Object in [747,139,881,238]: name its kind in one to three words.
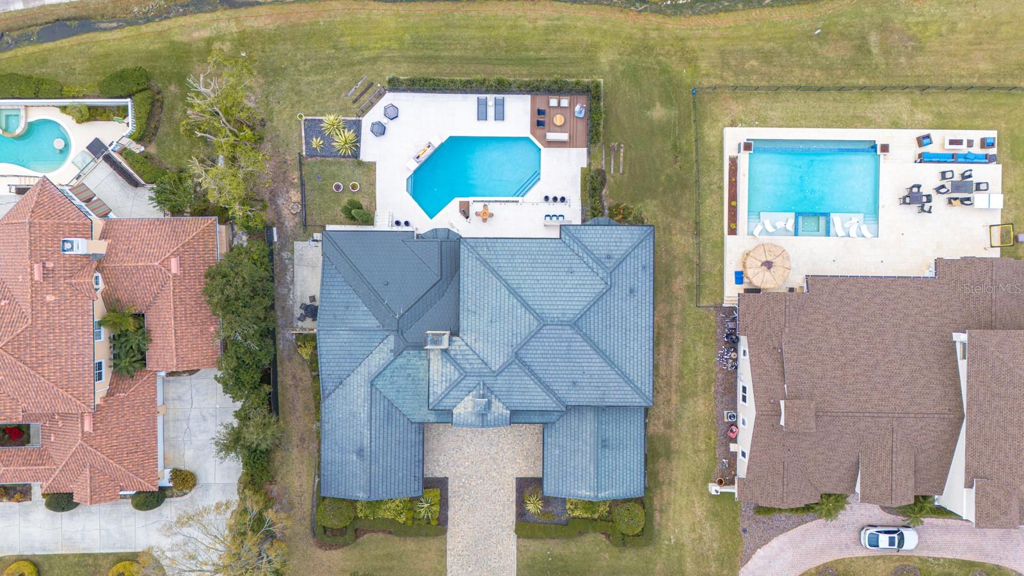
swimming pool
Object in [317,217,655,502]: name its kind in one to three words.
house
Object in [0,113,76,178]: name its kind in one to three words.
swimming pool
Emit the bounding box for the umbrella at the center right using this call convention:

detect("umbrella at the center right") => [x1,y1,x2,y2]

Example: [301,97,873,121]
[752,242,800,289]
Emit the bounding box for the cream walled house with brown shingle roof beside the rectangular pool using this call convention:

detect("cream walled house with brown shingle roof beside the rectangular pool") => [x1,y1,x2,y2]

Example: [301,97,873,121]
[729,258,1024,529]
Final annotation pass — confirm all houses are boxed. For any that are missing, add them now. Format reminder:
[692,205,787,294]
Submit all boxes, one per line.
[0,174,232,506]
[317,217,655,502]
[729,258,1024,529]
